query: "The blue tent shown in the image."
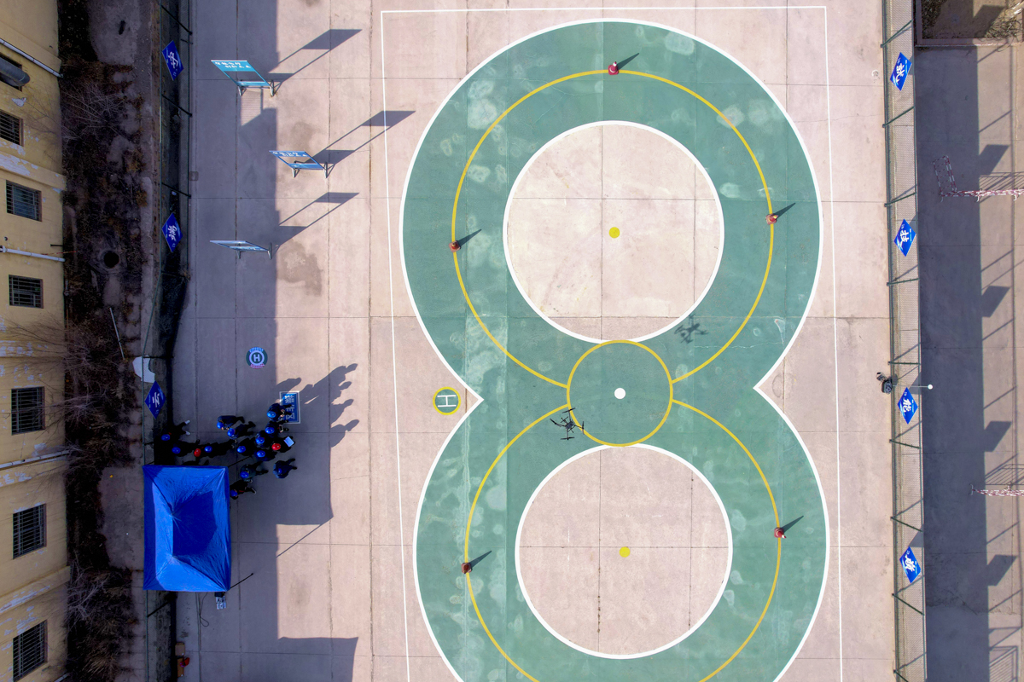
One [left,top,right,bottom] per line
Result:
[142,456,252,593]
